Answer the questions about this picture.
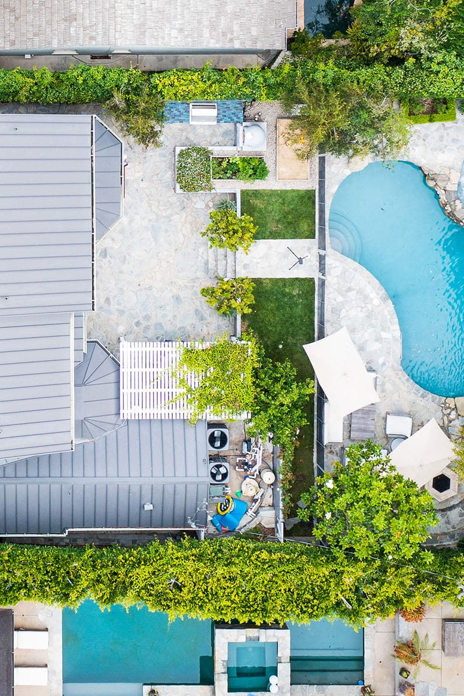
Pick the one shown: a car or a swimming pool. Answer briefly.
swimming pool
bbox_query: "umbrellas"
[303,327,379,419]
[386,417,458,485]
